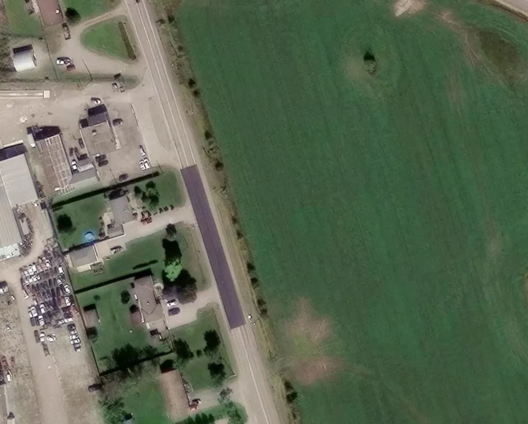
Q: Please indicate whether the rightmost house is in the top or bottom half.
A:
bottom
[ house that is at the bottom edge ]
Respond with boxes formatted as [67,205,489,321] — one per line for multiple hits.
[161,367,192,419]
